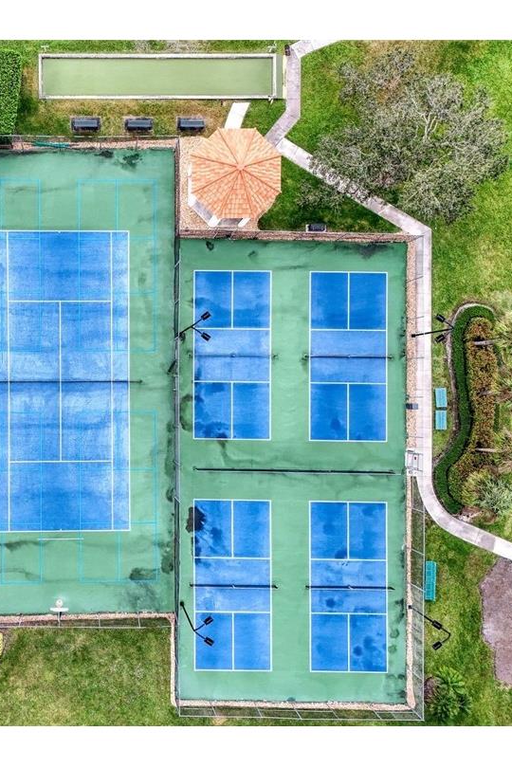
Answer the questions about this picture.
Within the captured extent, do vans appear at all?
No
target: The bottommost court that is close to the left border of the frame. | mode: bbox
[0,149,175,618]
